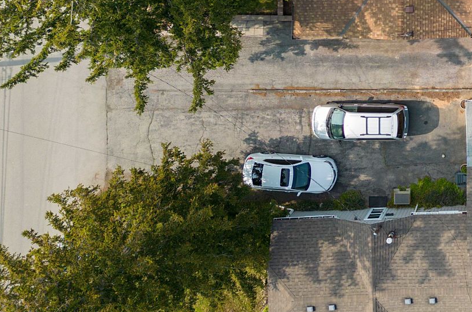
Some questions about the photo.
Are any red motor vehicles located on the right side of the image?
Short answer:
No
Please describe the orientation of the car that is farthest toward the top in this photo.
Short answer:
horizontally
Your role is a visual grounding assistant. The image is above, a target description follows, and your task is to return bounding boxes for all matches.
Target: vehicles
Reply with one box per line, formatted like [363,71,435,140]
[242,150,339,198]
[314,97,412,146]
